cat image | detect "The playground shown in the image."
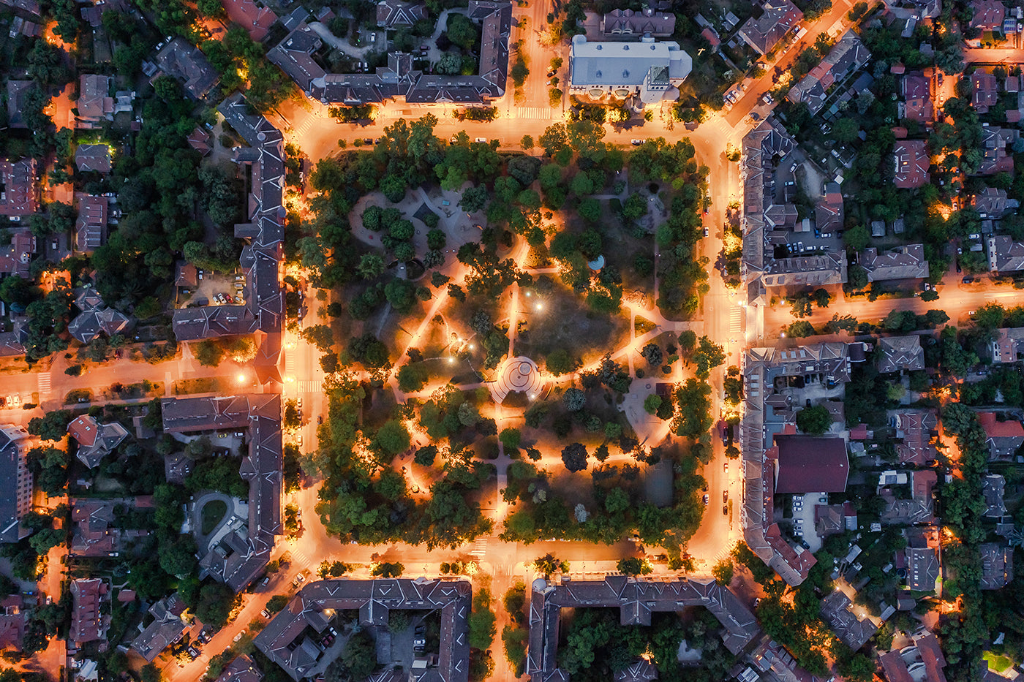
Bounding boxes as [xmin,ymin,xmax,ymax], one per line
[350,182,487,270]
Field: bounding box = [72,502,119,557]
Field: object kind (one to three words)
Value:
house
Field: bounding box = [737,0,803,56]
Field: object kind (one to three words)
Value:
house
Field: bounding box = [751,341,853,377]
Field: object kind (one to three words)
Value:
building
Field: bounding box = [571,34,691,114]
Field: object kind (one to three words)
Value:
building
